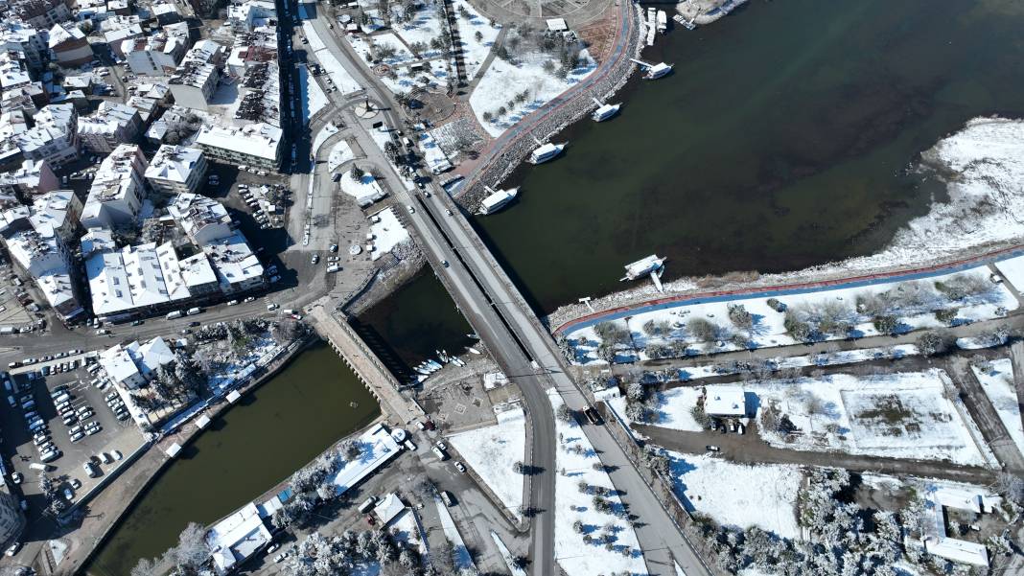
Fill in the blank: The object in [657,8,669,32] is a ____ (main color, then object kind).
white boat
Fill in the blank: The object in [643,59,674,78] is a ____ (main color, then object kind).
white boat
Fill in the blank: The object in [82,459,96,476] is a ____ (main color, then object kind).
white vehicle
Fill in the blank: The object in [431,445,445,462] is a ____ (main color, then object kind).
white vehicle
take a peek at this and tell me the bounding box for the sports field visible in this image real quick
[842,386,969,448]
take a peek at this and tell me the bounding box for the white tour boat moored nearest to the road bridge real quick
[475,184,520,214]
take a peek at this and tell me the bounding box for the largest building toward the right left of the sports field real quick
[704,384,746,417]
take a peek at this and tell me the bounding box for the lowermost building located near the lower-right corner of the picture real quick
[921,538,989,571]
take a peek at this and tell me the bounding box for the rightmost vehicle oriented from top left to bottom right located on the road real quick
[583,402,600,422]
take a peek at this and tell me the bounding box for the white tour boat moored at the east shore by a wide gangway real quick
[620,248,668,280]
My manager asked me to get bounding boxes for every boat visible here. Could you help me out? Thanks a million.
[423,361,437,372]
[528,139,567,163]
[428,359,443,370]
[413,367,429,376]
[465,347,479,353]
[442,349,449,362]
[620,248,668,280]
[475,184,520,214]
[591,99,621,119]
[643,59,674,78]
[437,350,445,363]
[657,8,669,32]
[418,363,432,373]
[450,357,462,366]
[411,375,427,385]
[453,355,467,365]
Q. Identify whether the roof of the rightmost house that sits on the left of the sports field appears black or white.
white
